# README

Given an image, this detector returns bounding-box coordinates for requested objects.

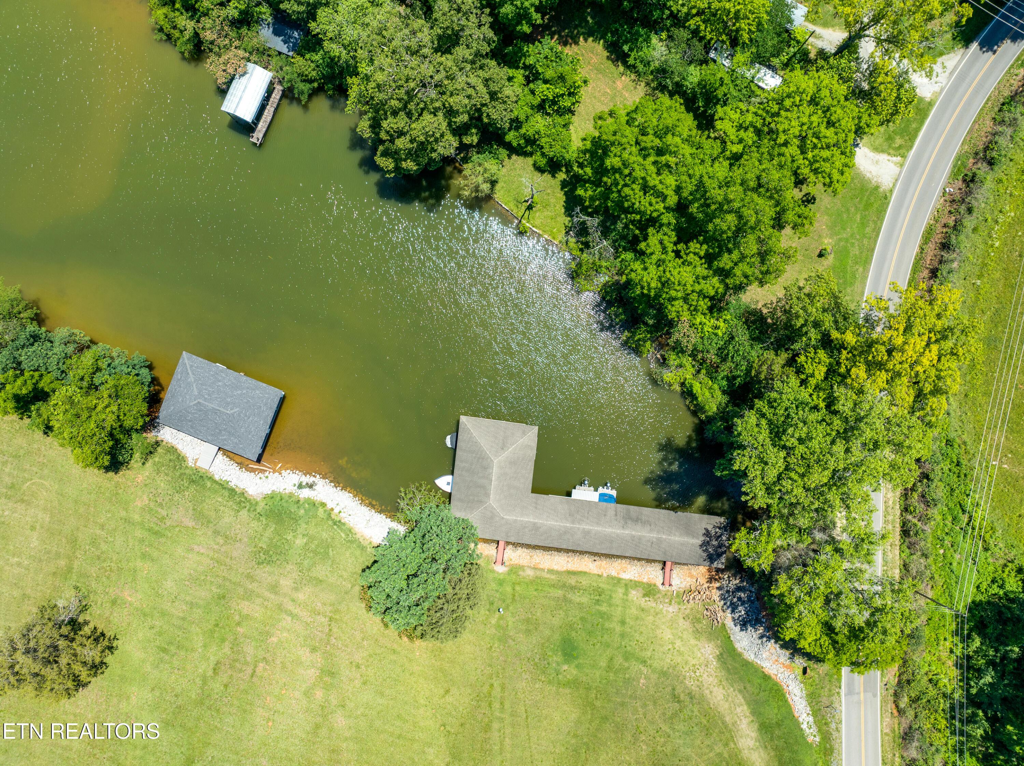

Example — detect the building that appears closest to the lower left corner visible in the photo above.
[158,351,289,462]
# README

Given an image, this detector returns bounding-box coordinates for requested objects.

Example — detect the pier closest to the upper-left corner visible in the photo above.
[249,86,285,146]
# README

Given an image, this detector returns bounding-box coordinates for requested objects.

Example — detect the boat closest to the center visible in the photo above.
[444,433,458,449]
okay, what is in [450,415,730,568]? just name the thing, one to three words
building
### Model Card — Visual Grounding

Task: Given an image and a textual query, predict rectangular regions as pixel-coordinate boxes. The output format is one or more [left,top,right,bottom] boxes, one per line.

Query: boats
[575,478,593,492]
[598,483,616,504]
[434,476,454,491]
[444,433,458,449]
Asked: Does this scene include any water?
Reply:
Yes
